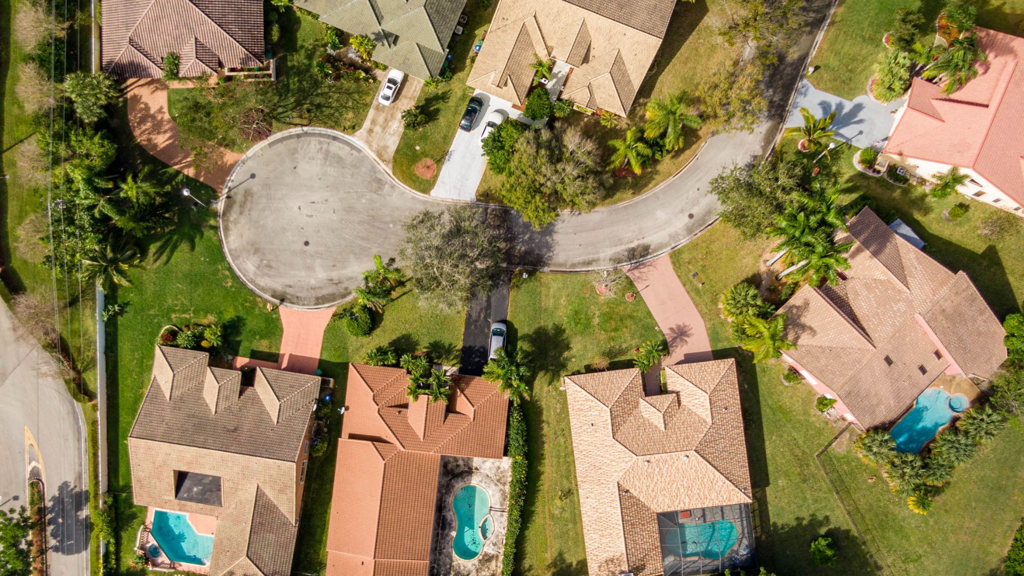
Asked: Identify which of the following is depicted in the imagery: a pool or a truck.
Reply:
pool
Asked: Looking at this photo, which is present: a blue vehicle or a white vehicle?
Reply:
white vehicle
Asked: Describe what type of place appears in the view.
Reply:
residential area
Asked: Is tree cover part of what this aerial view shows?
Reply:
Yes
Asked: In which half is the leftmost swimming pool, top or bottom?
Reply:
bottom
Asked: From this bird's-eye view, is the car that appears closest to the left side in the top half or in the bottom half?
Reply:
top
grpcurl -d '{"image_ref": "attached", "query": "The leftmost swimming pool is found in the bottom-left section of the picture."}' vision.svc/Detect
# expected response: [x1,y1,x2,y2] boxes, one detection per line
[148,508,215,568]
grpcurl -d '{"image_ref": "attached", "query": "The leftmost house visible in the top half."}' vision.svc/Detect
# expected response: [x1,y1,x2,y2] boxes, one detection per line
[101,0,268,87]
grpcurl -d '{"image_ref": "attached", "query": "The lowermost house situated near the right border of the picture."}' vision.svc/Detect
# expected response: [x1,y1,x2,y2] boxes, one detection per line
[770,205,1007,432]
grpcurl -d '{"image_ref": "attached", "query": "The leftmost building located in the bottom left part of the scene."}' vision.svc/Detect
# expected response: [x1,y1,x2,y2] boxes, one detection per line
[127,345,323,576]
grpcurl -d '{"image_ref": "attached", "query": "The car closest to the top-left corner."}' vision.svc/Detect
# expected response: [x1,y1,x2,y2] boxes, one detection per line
[375,69,406,107]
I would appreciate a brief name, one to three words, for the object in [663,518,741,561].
swimming pool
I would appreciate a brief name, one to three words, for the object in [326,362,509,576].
house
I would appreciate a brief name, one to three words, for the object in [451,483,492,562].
swimming pool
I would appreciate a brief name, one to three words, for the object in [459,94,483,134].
car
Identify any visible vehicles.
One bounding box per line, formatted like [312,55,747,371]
[459,94,483,134]
[375,69,406,107]
[487,322,507,363]
[478,112,505,151]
